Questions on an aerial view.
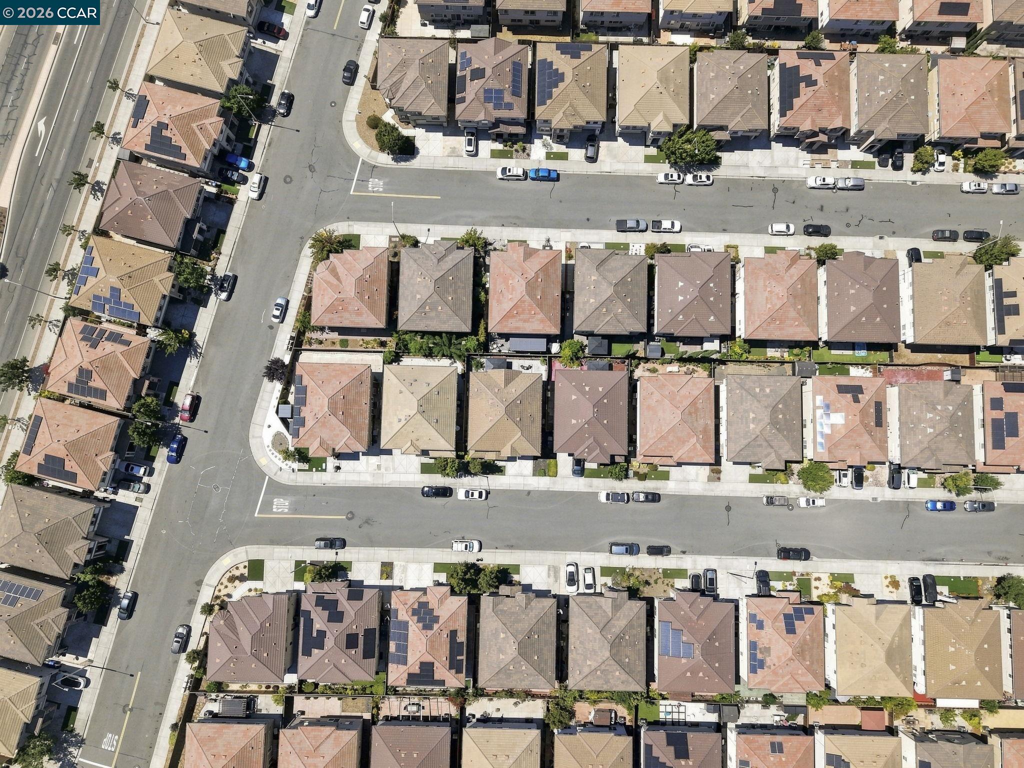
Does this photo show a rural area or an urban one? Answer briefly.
urban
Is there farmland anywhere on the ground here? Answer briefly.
No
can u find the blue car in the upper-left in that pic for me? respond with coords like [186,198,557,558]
[226,154,255,171]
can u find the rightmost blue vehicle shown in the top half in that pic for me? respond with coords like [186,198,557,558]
[528,168,560,182]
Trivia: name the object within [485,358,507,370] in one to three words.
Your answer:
gazebo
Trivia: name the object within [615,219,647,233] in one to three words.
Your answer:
vehicle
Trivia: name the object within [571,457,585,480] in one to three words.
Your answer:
car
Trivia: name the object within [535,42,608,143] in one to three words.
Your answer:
house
